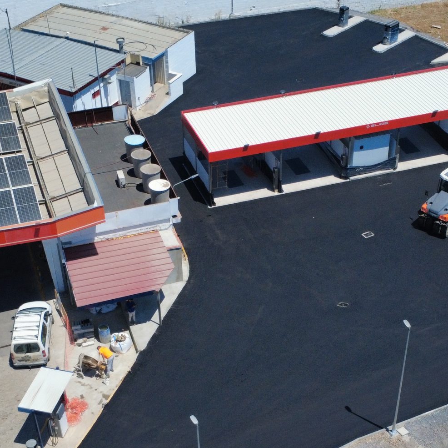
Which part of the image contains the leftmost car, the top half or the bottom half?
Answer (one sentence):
You can find the leftmost car in the bottom half.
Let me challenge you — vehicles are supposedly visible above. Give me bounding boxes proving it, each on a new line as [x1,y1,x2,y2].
[8,302,53,362]
[413,163,448,234]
